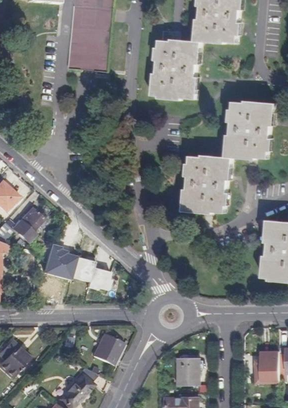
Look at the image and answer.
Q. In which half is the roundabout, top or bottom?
bottom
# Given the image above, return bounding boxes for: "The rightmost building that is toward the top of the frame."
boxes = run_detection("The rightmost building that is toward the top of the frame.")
[221,99,277,163]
